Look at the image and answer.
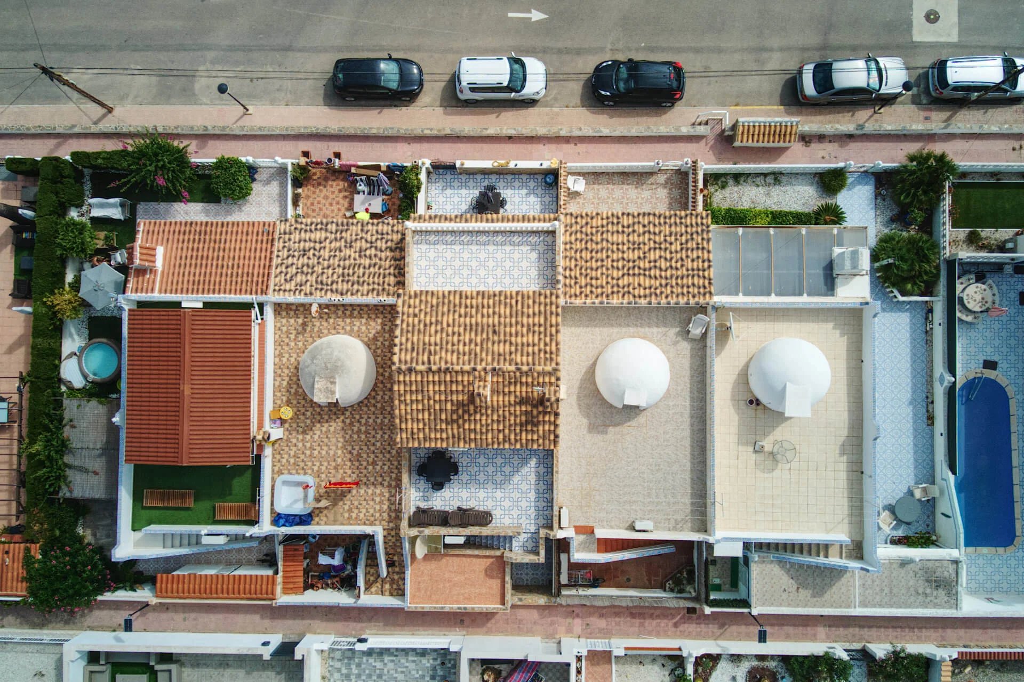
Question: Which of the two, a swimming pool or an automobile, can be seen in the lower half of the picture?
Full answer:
Visible in the lower half of the picture is a swimming pool.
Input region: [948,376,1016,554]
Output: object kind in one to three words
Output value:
swimming pool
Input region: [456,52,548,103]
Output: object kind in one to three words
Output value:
car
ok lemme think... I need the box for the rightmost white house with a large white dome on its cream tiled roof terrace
[710,302,963,616]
